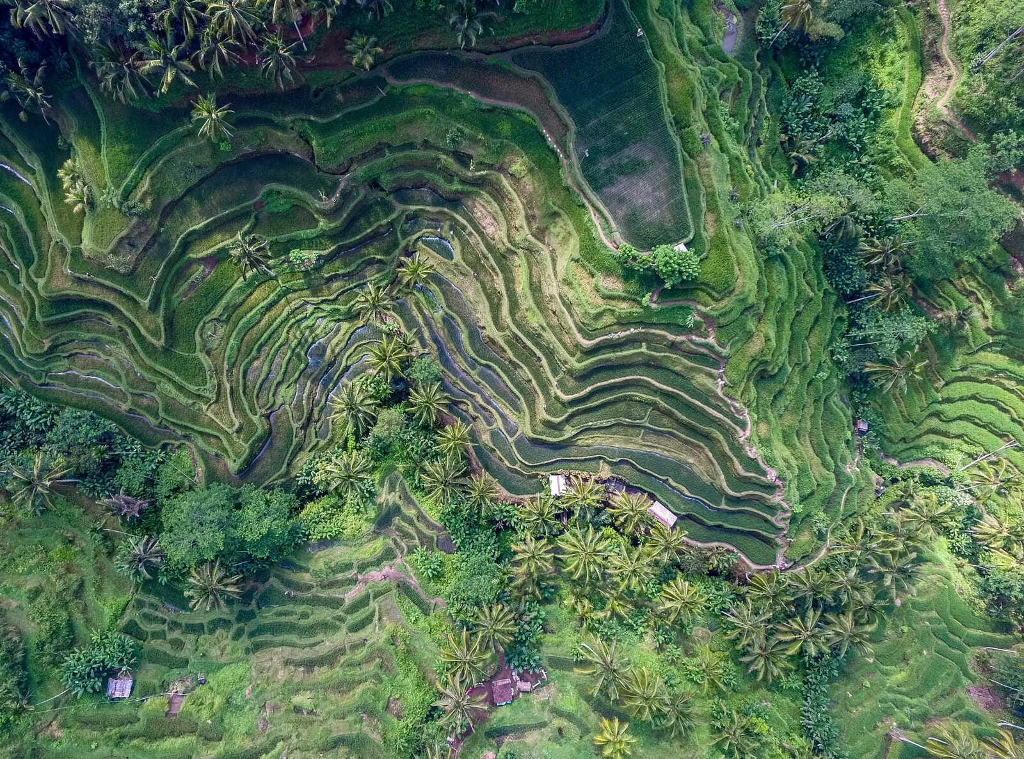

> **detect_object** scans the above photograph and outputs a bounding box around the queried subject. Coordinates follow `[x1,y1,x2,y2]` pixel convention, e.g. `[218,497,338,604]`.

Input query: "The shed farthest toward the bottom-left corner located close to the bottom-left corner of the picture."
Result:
[107,675,136,697]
